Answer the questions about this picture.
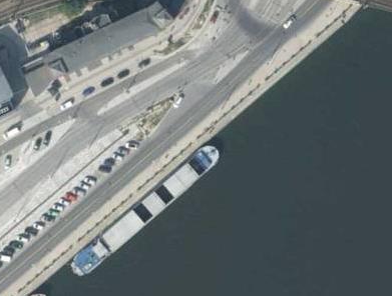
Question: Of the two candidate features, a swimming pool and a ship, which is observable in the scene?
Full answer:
The one in the frame is a ship.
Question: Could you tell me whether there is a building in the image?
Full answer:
Yes, the picture does show a building.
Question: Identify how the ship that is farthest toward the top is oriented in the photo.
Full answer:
From this overhead view, the ship that is farthest toward the top appears to run on a diagonal.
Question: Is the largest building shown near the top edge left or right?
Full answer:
It is on the left.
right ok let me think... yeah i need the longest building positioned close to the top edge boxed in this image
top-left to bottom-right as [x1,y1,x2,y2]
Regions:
[45,3,173,82]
